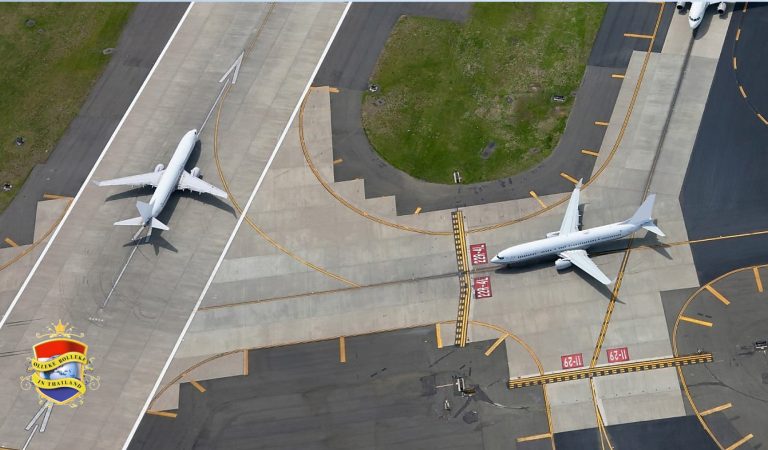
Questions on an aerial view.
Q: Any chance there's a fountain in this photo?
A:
No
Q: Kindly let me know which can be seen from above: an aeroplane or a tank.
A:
aeroplane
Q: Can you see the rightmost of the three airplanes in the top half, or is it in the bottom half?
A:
top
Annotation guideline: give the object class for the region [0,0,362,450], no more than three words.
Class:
runway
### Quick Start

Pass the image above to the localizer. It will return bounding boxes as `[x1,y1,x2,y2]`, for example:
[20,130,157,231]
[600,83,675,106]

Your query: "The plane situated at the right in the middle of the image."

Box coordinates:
[490,176,665,286]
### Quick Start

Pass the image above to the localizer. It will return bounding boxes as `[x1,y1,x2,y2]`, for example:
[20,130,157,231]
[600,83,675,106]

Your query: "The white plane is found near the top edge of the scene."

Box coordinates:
[675,0,726,28]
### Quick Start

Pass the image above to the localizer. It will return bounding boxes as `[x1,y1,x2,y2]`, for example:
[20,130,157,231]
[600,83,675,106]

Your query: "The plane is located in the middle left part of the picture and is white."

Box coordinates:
[93,128,229,229]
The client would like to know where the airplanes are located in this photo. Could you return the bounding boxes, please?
[675,0,726,28]
[490,176,665,286]
[93,128,229,229]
